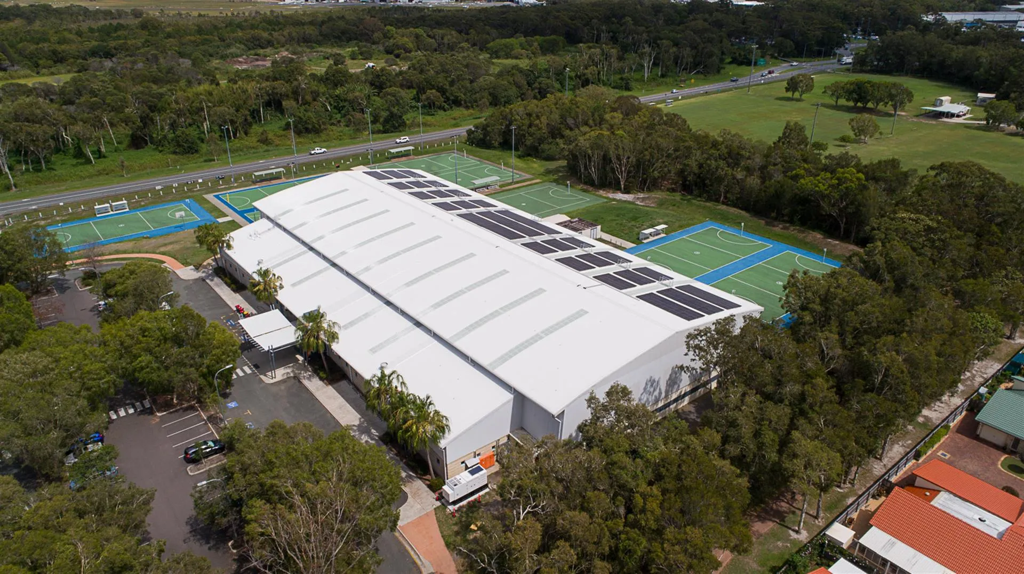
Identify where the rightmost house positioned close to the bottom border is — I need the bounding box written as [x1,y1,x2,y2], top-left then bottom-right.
[855,454,1024,574]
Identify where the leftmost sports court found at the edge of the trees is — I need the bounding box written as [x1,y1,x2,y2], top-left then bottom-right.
[40,204,199,246]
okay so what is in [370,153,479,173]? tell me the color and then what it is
green sports court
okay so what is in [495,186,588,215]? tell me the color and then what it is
green sports court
